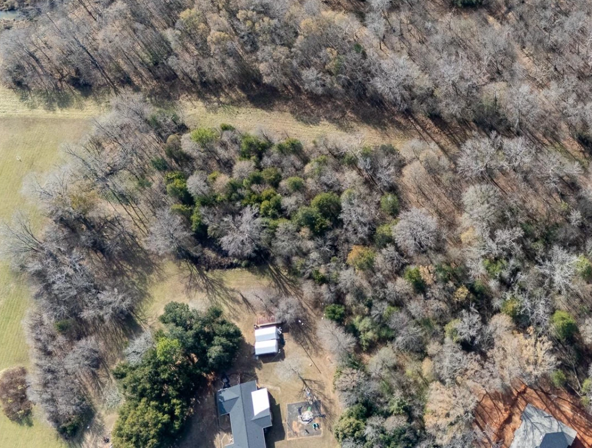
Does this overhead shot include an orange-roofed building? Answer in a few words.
No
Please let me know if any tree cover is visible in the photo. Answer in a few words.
Yes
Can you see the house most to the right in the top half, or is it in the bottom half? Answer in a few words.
bottom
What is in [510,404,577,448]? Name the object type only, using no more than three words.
house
